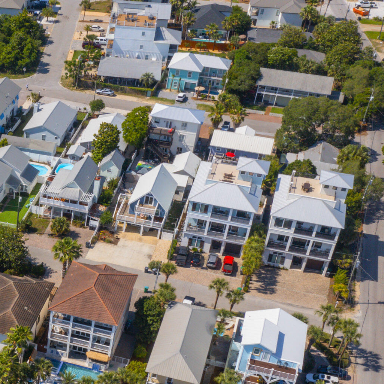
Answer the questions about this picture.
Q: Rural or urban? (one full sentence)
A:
The area shown here is urban.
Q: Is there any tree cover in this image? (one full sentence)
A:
Yes, some tree cover is visible.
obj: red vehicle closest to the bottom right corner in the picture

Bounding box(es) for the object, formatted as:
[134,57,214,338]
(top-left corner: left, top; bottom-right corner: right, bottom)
[222,256,235,273]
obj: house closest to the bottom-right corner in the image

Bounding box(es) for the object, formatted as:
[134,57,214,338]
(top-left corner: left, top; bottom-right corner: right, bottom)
[229,302,308,384]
